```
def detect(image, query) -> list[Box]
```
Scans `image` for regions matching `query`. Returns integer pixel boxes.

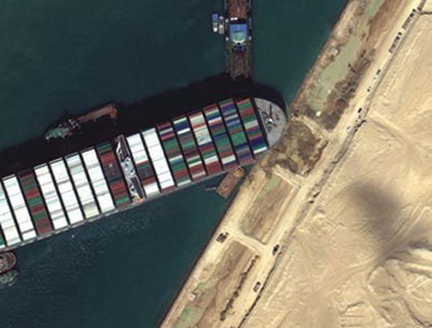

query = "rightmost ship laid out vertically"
[226,0,252,78]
